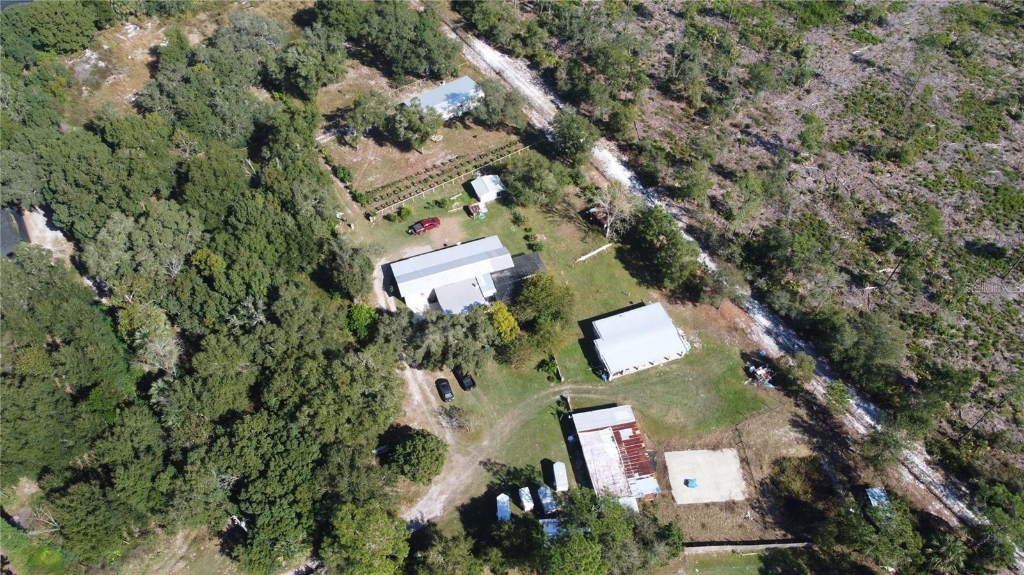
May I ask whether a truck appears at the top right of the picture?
No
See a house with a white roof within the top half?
Yes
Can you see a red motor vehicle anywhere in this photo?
Yes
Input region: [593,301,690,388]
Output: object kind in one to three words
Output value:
house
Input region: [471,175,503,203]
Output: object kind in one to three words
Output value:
shed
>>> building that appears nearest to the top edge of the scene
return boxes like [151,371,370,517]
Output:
[403,75,487,129]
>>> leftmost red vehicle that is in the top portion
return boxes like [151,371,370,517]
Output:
[408,219,440,236]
